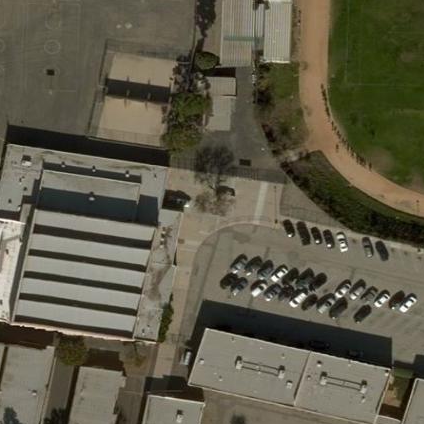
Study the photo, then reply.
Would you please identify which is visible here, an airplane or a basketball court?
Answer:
basketball court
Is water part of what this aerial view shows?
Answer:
No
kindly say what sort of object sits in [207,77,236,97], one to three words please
shed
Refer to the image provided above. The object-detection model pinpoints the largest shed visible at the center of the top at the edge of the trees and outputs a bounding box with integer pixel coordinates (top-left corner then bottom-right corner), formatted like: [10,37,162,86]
[205,97,234,132]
